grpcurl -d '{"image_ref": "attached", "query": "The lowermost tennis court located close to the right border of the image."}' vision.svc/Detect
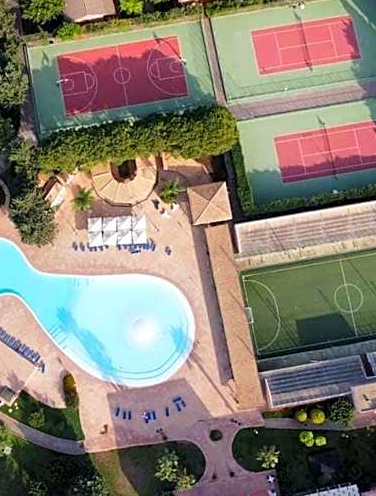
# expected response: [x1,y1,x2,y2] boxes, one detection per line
[237,98,376,211]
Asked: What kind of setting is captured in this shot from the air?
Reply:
sports ground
